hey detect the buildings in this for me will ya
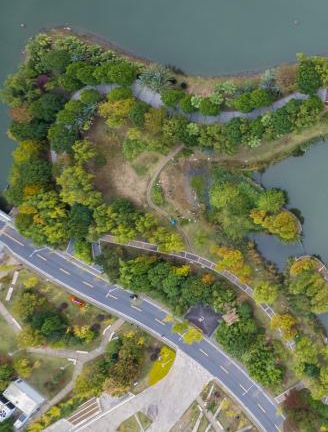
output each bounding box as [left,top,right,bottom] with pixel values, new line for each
[3,378,48,432]
[185,303,223,338]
